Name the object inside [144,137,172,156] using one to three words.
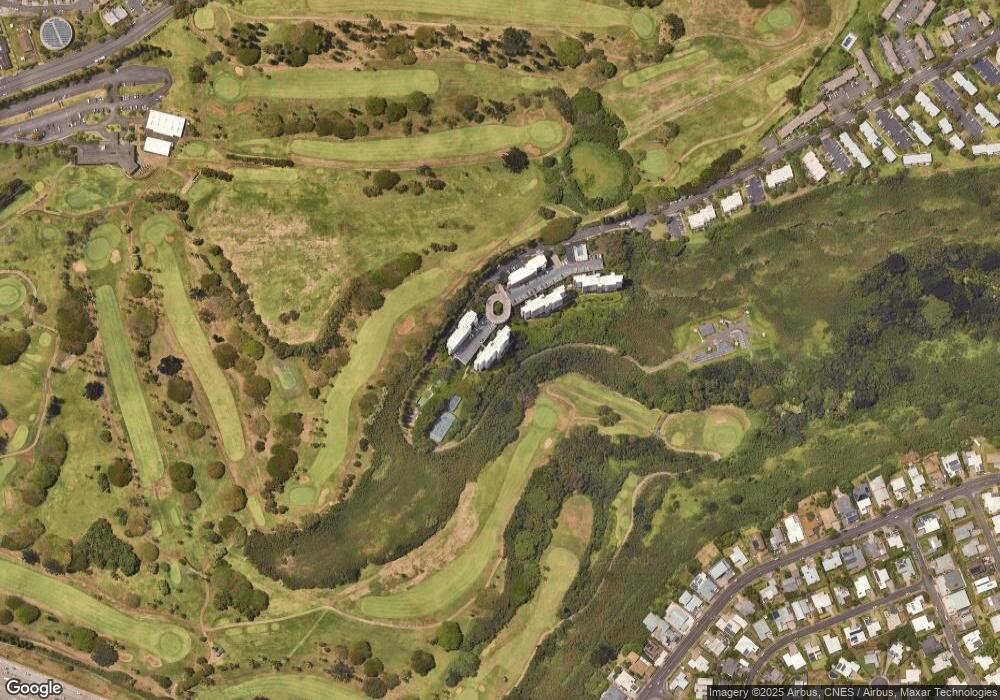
shed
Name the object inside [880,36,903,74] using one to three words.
building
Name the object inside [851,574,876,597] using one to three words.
house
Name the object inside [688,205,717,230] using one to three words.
building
